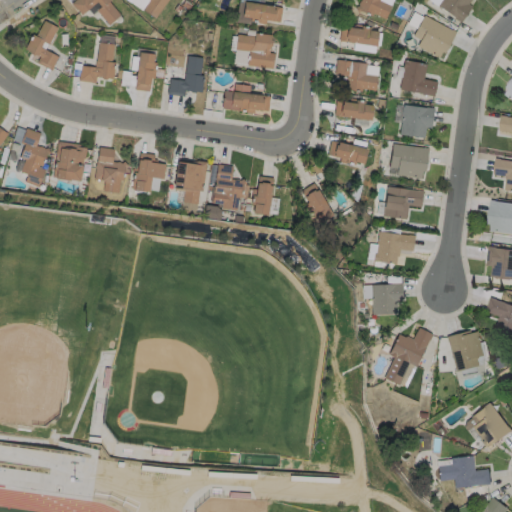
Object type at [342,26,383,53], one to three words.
house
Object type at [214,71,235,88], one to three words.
swimming pool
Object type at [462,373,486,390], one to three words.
swimming pool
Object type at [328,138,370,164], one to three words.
house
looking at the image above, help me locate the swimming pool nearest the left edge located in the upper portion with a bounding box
[4,174,28,190]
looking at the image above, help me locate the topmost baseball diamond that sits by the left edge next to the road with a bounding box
[0,206,138,440]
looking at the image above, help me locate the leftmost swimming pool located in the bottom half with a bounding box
[372,354,388,377]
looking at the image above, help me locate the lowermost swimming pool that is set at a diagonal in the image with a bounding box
[446,407,467,426]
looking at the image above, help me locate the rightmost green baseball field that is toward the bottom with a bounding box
[104,234,326,459]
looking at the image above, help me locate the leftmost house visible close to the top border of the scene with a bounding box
[28,20,59,69]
